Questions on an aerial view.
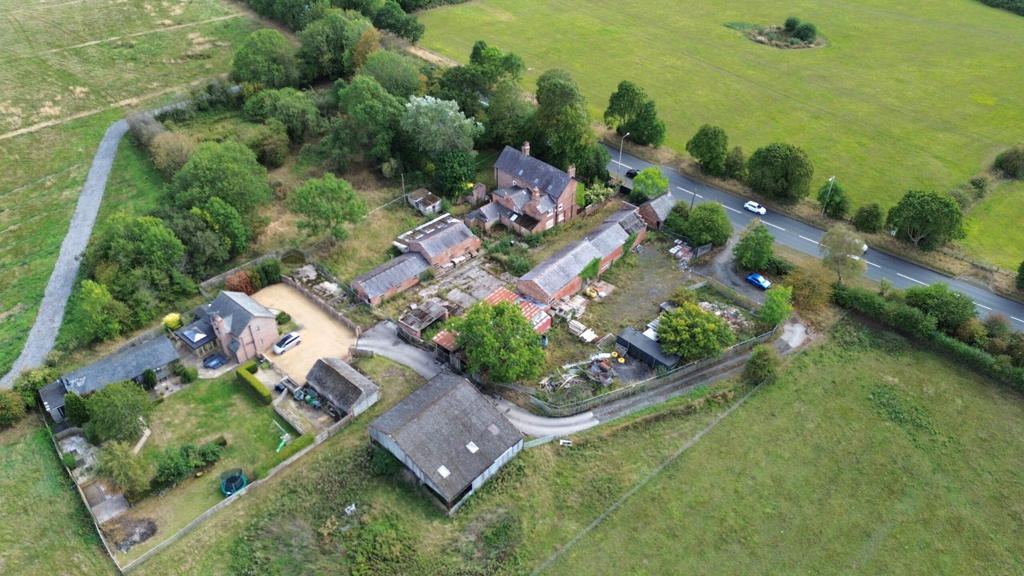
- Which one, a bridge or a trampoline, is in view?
trampoline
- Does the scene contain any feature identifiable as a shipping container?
Yes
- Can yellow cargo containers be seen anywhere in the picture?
No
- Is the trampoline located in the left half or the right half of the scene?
left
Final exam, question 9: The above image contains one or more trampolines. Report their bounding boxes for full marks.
[216,468,247,497]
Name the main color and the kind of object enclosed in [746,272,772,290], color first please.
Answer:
blue car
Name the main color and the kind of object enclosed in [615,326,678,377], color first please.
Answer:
black shipping container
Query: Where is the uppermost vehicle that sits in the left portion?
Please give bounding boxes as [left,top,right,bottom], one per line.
[272,333,302,355]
